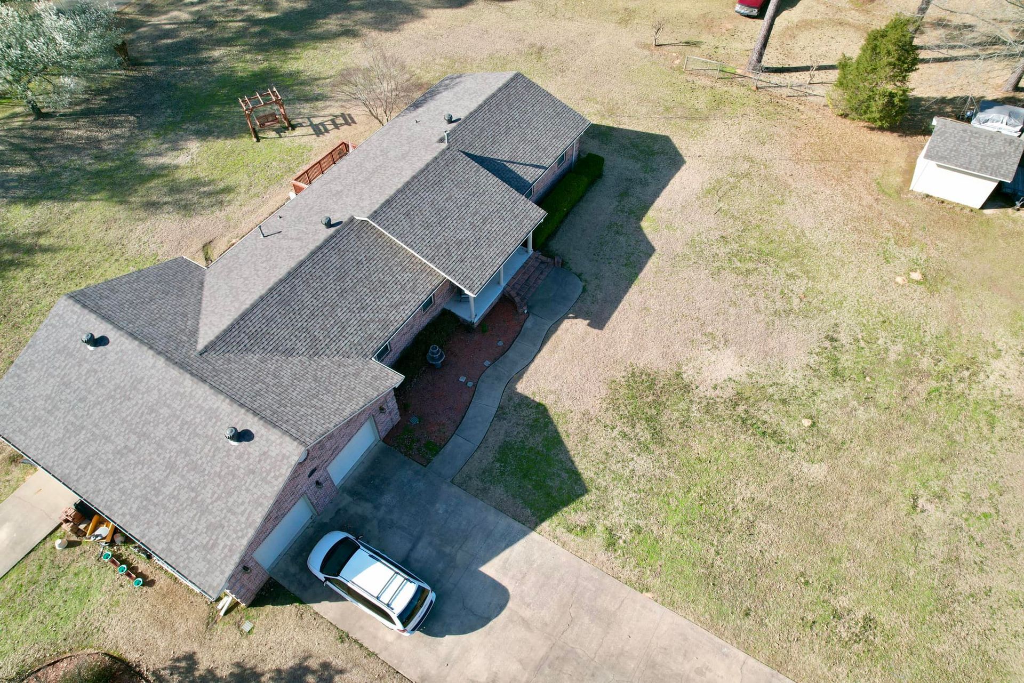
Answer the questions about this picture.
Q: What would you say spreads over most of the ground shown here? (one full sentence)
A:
The scene is dominated by grass.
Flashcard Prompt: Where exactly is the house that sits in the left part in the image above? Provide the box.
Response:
[0,71,591,608]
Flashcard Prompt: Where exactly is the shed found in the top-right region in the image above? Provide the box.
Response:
[912,120,1024,209]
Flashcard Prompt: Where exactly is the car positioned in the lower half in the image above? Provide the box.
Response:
[304,529,437,639]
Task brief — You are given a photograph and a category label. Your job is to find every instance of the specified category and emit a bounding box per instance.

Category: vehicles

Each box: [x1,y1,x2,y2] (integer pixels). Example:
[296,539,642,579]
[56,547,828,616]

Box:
[304,529,437,639]
[730,0,759,16]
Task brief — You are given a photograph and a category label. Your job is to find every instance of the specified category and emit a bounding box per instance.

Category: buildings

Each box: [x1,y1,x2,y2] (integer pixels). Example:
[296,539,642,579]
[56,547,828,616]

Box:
[912,120,1024,209]
[0,71,591,608]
